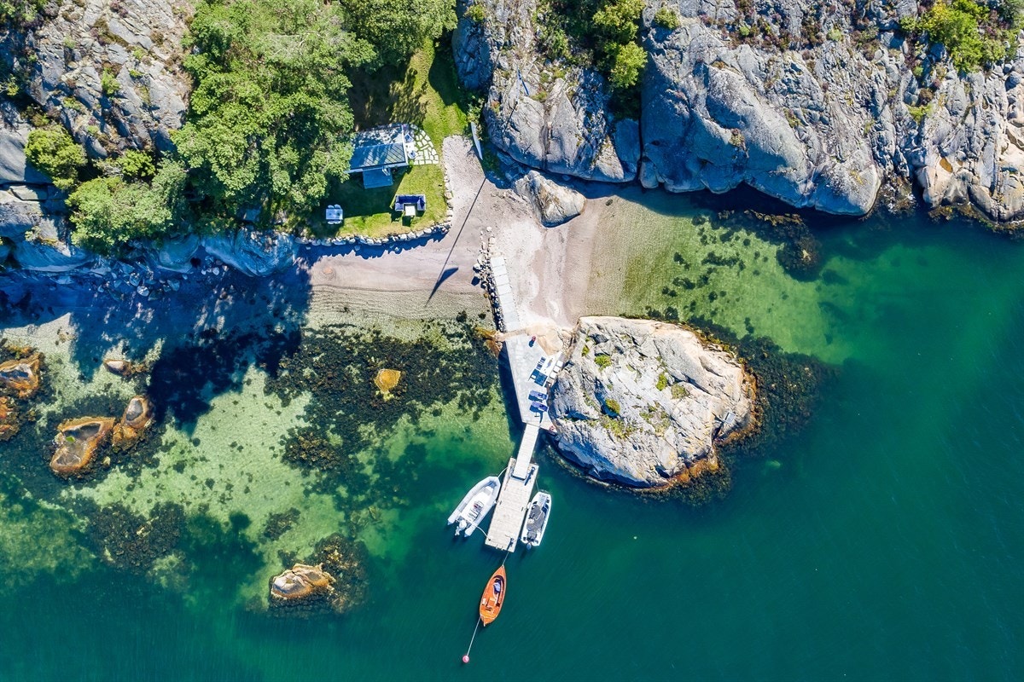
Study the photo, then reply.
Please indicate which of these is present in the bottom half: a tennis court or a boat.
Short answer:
boat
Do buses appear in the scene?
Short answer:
No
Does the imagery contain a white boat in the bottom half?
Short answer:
Yes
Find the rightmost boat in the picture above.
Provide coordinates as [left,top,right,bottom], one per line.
[518,491,551,552]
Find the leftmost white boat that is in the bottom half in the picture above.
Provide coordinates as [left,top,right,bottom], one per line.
[445,478,498,541]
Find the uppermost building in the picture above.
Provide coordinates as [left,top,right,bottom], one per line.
[344,126,409,176]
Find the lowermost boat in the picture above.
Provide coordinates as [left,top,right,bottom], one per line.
[480,564,506,631]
